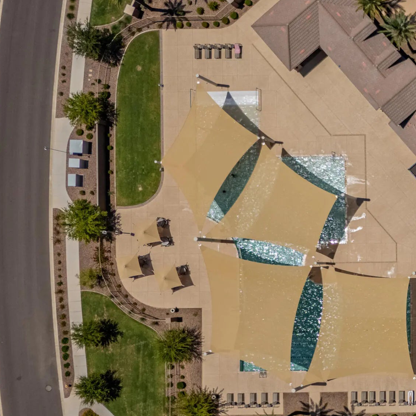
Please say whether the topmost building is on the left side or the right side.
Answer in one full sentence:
The topmost building sits on the right side.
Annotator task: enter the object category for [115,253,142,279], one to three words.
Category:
umbrella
